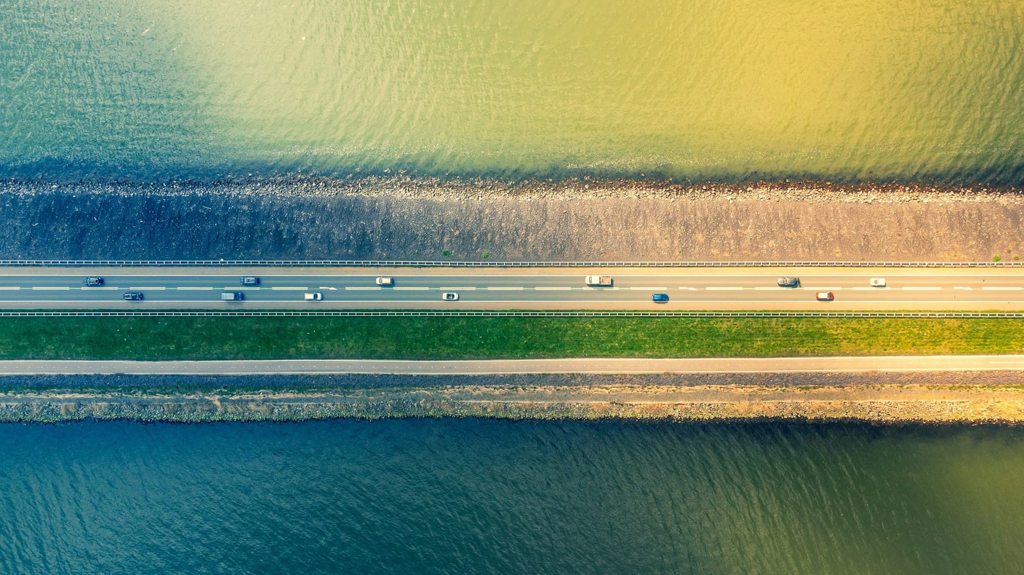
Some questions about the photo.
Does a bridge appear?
No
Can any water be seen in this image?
Yes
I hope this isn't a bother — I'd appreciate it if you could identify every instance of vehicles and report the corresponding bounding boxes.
[585,275,611,285]
[442,292,458,300]
[123,292,143,301]
[777,277,797,285]
[869,278,886,286]
[240,276,259,285]
[84,277,102,285]
[815,292,832,300]
[651,293,668,301]
[304,292,323,301]
[376,277,393,285]
[220,292,243,301]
